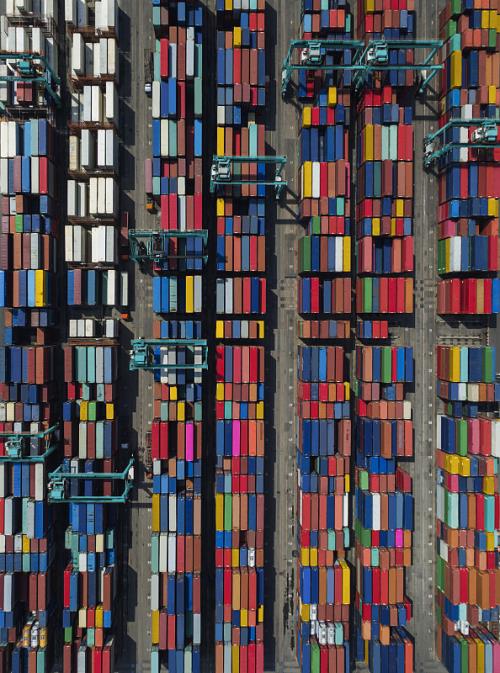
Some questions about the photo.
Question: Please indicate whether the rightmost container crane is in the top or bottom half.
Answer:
top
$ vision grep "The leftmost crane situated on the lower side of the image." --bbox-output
[0,419,64,461]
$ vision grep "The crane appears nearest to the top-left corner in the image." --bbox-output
[0,53,64,108]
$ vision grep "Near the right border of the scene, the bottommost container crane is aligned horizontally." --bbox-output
[422,120,500,170]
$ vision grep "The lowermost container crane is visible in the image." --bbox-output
[43,455,139,500]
